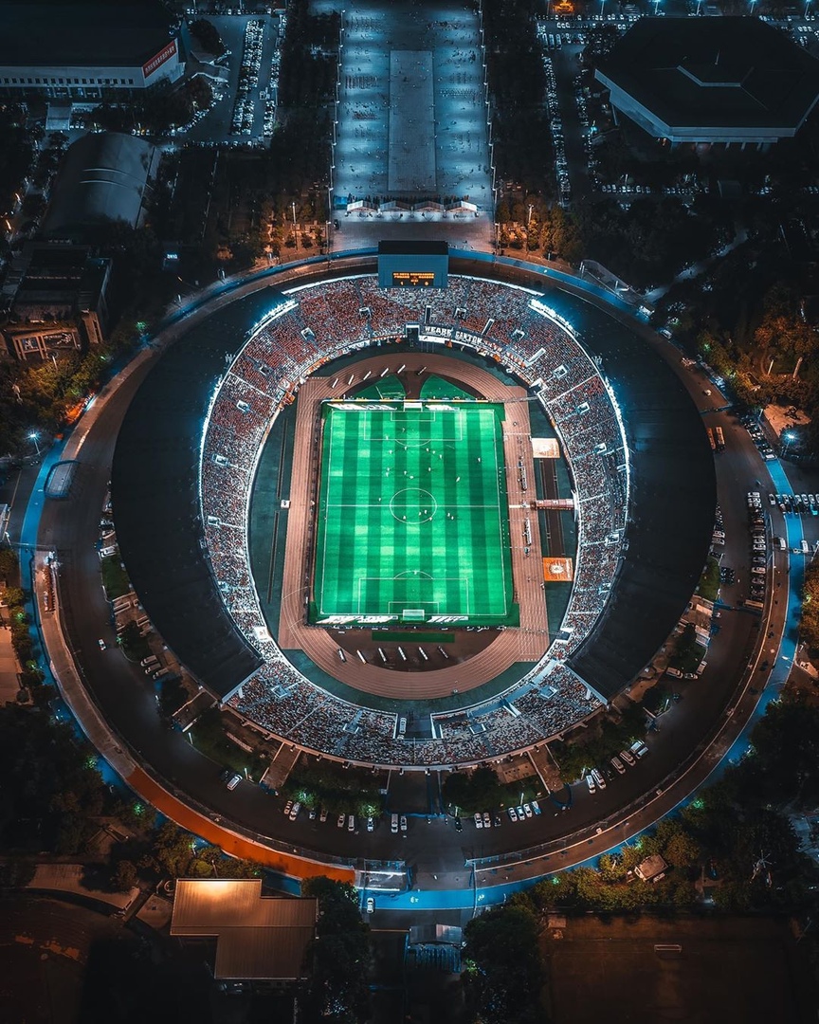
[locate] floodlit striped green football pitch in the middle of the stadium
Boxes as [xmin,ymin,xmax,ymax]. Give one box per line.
[308,399,519,626]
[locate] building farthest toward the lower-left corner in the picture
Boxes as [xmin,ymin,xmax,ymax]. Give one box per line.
[170,878,319,991]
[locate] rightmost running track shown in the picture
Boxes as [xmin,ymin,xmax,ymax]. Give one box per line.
[278,353,549,696]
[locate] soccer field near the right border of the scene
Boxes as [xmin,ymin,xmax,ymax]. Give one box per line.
[545,916,819,1024]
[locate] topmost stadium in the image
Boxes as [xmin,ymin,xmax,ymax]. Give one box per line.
[594,17,819,152]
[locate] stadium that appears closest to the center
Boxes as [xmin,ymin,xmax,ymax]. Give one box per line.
[112,276,716,775]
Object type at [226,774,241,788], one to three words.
vehicle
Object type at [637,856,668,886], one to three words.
house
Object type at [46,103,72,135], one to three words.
building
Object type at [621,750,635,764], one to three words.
vehicle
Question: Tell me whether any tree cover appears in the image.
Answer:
Yes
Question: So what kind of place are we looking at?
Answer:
sports ground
